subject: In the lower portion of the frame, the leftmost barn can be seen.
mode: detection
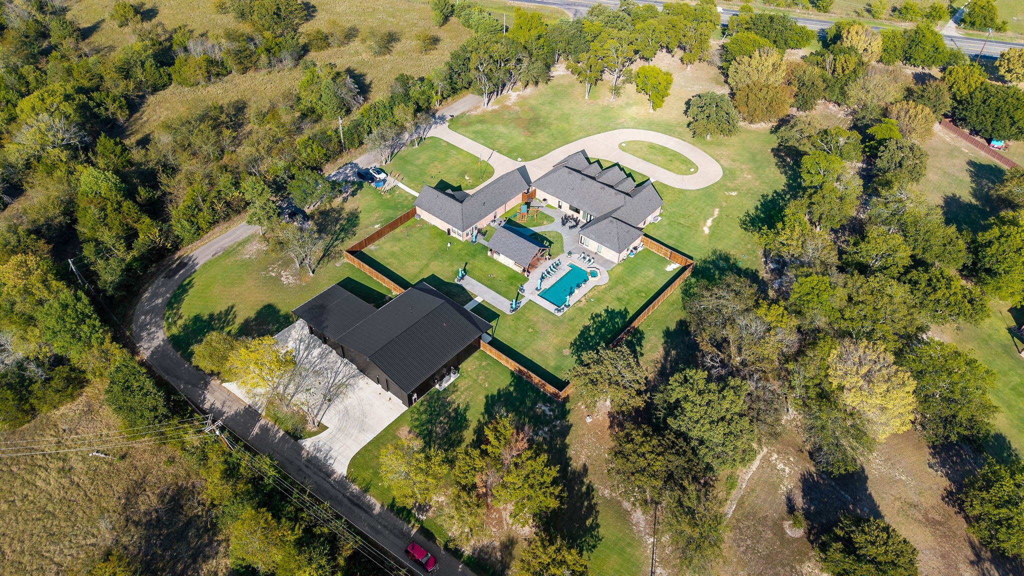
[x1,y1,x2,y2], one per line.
[291,283,496,409]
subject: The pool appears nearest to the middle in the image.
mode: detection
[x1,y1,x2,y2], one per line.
[537,262,593,307]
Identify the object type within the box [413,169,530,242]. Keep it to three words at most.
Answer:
house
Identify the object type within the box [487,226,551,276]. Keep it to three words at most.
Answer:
building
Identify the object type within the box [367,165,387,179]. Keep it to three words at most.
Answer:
car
